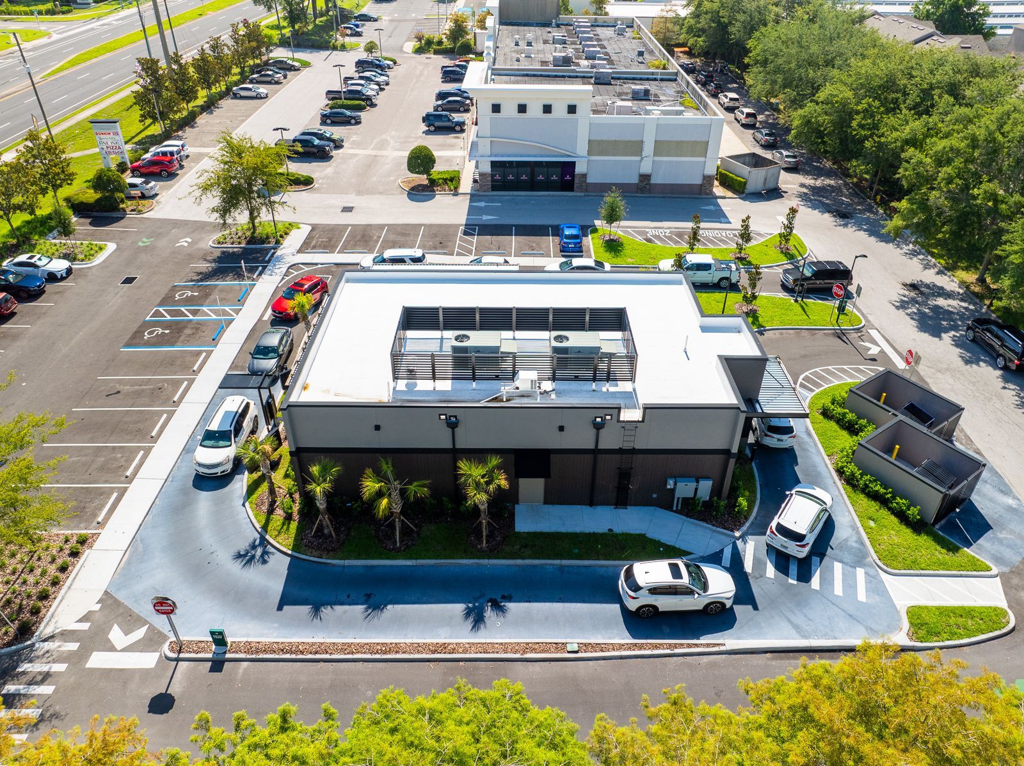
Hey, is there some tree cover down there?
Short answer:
Yes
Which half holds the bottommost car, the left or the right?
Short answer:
right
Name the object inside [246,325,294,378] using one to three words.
car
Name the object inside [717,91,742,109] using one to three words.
car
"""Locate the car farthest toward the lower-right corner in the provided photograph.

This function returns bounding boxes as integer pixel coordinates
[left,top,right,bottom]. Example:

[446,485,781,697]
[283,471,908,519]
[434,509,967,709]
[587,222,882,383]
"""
[759,487,835,571]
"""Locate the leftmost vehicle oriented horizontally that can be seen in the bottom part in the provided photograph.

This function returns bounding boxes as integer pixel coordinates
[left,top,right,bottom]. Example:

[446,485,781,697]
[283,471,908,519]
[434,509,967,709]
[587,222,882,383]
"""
[614,560,740,621]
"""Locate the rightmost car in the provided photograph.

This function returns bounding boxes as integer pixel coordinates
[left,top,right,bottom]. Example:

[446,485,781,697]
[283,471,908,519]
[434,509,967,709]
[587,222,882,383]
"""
[957,317,1024,377]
